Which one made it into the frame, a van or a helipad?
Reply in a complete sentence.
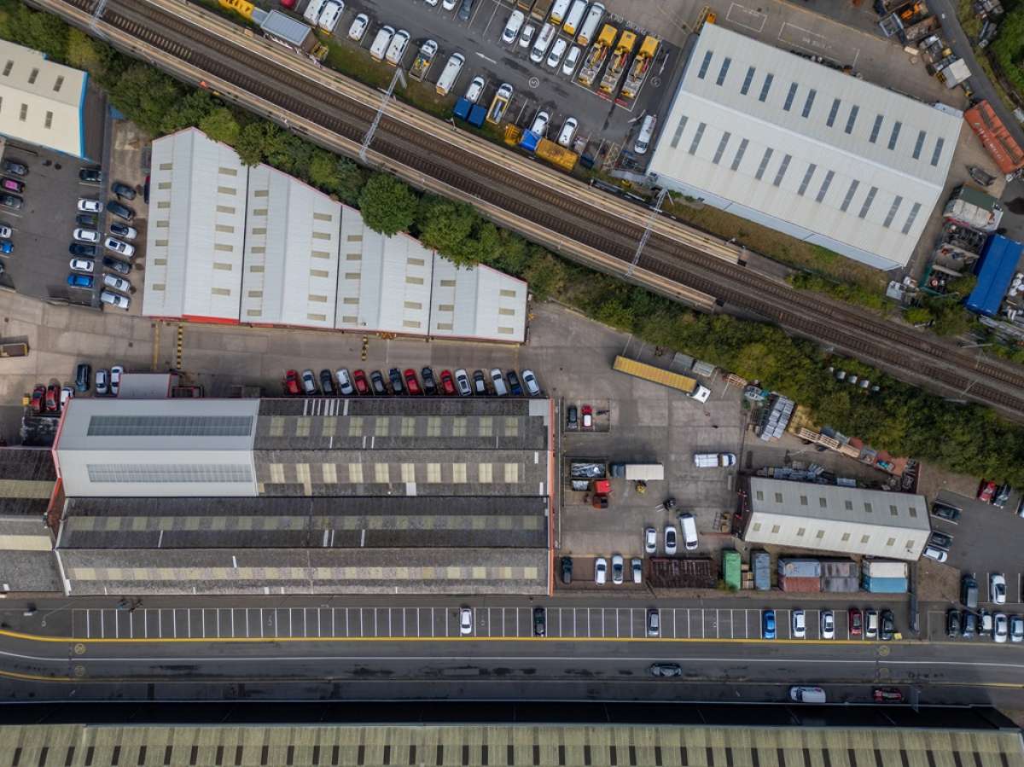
This aerial view contains a van.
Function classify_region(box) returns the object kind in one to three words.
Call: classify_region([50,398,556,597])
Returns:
building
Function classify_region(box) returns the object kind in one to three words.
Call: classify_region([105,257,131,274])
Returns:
car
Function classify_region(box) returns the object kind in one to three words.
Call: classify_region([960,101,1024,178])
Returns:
shipping container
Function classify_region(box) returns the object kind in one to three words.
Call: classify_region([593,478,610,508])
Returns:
work vehicle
